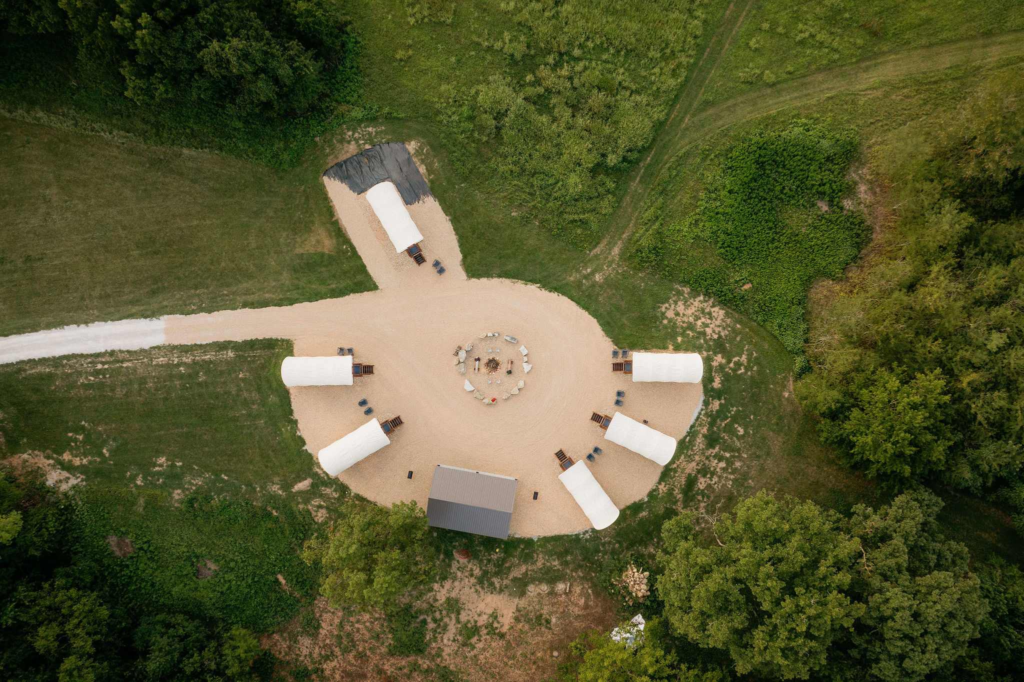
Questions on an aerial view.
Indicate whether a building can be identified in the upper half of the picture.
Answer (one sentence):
No, the scene shows no building in the upper half of the picture.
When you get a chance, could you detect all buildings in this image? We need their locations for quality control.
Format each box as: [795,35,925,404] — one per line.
[425,463,517,539]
